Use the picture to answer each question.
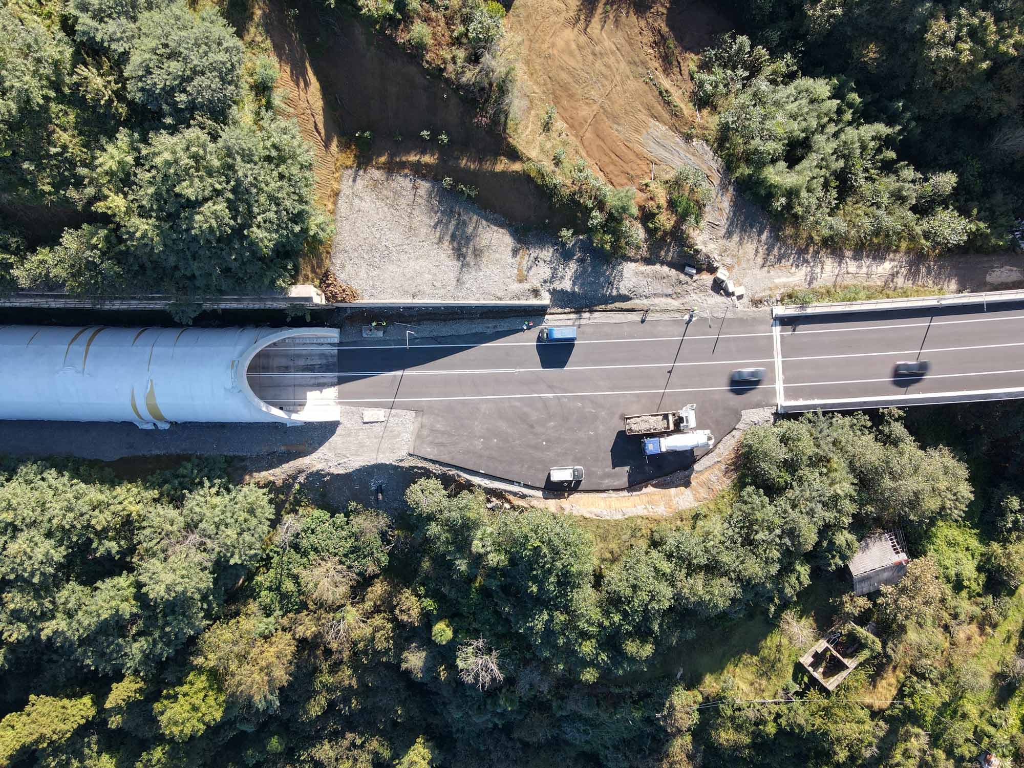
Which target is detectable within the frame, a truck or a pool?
truck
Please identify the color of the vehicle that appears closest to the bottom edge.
white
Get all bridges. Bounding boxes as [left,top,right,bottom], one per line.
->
[767,289,1024,414]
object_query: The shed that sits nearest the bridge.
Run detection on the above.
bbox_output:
[838,521,911,594]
